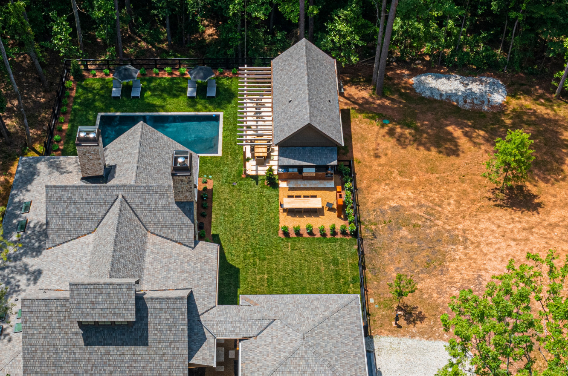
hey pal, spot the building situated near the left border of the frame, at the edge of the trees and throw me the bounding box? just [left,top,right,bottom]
[0,119,221,376]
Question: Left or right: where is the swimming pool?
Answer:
left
